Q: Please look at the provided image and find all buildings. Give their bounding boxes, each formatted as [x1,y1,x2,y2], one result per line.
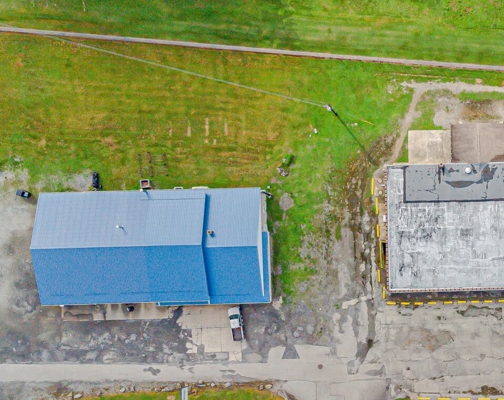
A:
[30,185,275,309]
[381,163,504,296]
